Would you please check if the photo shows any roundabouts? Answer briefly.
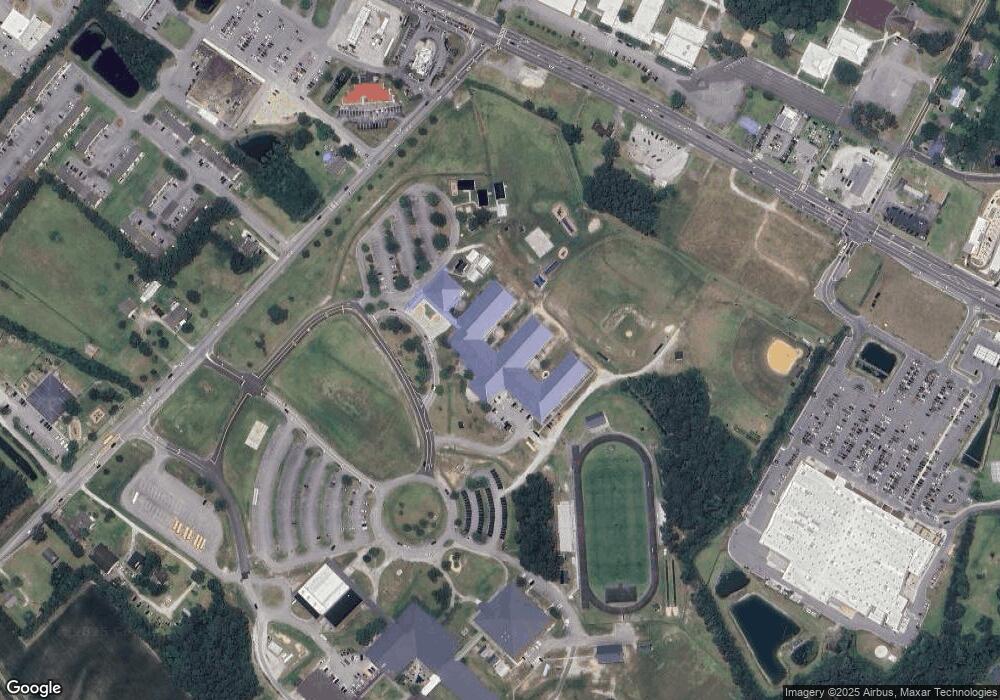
Yes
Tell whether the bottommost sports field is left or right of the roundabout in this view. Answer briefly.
right of it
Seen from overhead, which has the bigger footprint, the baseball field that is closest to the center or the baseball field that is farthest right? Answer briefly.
the baseball field that is farthest right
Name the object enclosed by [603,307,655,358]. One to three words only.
baseball field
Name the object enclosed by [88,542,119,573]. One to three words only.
house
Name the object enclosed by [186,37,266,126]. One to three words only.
building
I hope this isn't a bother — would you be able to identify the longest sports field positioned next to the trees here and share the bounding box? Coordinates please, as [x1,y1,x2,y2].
[583,442,648,603]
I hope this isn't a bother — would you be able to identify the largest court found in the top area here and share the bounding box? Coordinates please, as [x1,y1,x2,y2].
[524,227,554,258]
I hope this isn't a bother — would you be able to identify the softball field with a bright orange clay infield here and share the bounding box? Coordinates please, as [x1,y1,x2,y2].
[732,314,805,407]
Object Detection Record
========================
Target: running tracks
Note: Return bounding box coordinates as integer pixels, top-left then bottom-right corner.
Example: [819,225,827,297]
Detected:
[572,432,659,615]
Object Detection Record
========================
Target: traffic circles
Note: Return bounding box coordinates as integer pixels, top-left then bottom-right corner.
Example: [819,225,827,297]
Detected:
[373,472,457,554]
